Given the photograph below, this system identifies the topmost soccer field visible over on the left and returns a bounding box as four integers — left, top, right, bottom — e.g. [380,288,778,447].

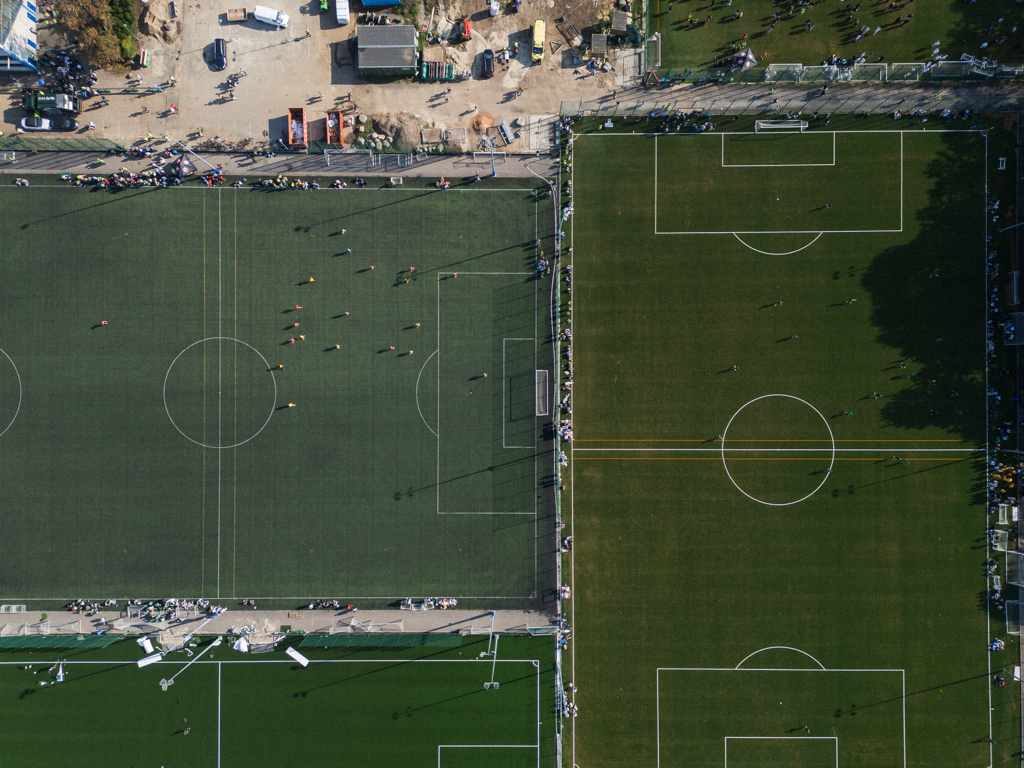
[0,174,556,610]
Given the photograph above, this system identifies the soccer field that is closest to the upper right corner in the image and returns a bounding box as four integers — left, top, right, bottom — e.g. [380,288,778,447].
[646,0,1024,83]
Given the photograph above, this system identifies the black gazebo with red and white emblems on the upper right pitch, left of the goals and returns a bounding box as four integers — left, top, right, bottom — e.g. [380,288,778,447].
[730,47,758,78]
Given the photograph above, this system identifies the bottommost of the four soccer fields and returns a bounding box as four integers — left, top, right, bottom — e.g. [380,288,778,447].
[0,635,556,768]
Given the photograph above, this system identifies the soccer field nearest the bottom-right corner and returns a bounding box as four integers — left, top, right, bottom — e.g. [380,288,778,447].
[539,112,1021,768]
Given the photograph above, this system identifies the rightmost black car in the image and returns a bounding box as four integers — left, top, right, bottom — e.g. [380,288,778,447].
[482,49,496,78]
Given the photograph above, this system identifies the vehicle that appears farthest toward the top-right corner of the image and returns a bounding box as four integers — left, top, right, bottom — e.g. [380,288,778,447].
[530,19,546,63]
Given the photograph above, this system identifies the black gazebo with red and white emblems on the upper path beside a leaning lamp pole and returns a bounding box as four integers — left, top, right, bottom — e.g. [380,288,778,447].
[169,151,201,183]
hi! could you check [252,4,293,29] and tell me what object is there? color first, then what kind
white vehicle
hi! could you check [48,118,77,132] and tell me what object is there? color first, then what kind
black car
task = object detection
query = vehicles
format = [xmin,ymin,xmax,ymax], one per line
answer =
[319,0,332,16]
[530,19,546,63]
[252,4,293,29]
[22,91,82,115]
[19,117,48,132]
[337,0,353,24]
[459,5,474,40]
[214,39,229,71]
[48,118,77,132]
[482,49,496,78]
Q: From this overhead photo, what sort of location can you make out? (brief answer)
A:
sports ground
